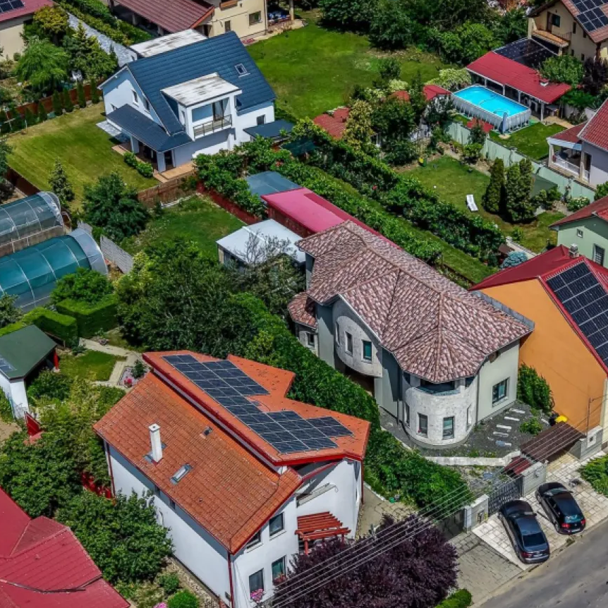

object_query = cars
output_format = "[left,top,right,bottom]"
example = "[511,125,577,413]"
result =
[492,504,547,563]
[535,483,585,534]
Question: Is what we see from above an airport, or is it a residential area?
residential area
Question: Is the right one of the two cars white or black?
black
